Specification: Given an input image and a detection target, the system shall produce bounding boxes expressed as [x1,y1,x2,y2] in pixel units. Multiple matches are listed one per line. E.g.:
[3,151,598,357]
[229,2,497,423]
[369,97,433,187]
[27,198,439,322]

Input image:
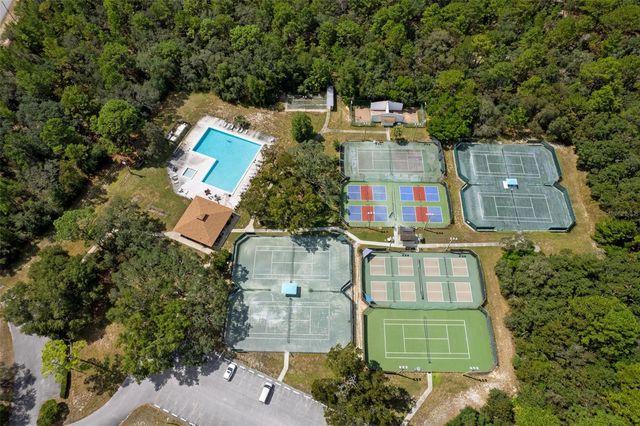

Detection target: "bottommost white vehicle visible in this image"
[258,382,272,405]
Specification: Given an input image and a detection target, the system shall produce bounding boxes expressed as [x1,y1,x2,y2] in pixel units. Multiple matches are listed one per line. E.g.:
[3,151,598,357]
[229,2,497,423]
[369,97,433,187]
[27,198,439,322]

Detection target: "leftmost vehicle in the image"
[222,363,235,382]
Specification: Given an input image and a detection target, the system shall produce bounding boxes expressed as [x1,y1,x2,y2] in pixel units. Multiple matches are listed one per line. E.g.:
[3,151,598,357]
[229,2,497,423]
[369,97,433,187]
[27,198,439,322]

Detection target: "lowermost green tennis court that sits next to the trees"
[364,305,494,372]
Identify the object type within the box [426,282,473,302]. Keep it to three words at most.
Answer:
sports court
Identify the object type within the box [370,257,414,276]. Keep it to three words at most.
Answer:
sports court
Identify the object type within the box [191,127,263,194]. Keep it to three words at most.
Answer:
swimming pool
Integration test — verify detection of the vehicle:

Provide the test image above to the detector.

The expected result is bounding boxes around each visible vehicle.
[222,363,235,382]
[258,382,272,405]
